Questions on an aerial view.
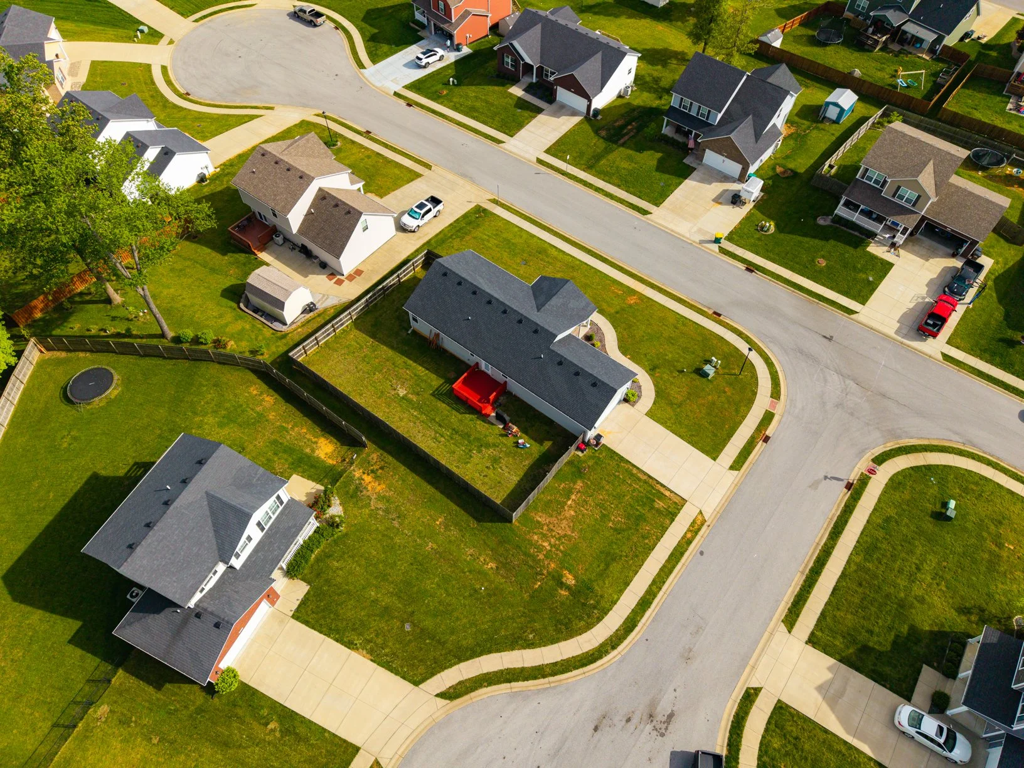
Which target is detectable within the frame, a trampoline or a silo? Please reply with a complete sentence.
I can see a trampoline in this picture.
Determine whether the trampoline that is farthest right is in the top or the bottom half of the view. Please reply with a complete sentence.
You can find the trampoline that is farthest right in the top half.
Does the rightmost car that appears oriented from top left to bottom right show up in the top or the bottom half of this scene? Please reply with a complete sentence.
It is in the bottom half that the rightmost car that appears oriented from top left to bottom right appears.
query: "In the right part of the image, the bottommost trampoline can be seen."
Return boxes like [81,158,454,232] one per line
[968,146,1010,175]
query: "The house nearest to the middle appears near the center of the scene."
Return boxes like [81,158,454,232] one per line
[403,251,645,443]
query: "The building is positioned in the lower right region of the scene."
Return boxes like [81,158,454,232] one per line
[945,624,1024,768]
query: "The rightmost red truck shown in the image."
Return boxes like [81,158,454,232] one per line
[922,292,963,335]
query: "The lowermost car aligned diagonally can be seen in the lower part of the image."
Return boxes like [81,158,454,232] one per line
[899,704,976,768]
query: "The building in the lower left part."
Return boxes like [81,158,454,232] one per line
[81,434,320,687]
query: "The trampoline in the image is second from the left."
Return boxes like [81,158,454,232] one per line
[813,20,849,51]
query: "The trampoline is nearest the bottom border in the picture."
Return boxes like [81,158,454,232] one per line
[67,367,121,408]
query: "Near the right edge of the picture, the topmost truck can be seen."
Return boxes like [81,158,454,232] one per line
[949,253,988,295]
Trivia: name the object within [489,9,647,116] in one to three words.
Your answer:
house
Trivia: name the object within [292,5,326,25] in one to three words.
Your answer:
vehicle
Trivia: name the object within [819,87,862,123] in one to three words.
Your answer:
shed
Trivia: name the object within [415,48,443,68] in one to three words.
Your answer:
car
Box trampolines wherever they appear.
[813,20,849,51]
[67,367,121,408]
[968,146,1010,175]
